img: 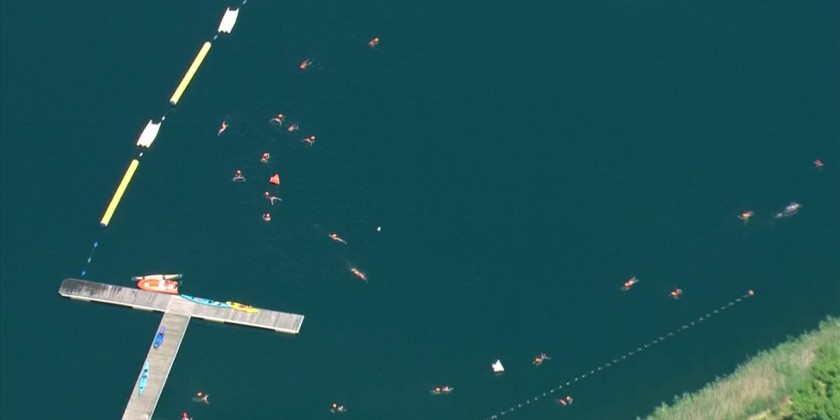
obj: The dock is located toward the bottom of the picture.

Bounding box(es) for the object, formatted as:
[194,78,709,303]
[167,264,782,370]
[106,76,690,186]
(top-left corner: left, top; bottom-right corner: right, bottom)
[61,279,304,420]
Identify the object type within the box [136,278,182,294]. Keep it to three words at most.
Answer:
boat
